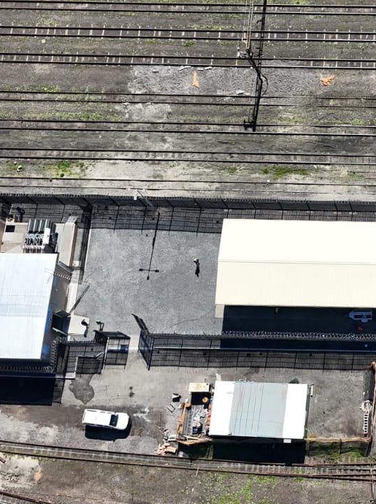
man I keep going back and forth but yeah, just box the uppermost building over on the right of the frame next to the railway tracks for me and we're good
[215,217,376,311]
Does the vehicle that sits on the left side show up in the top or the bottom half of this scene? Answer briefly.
bottom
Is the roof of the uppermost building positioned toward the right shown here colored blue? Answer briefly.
No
